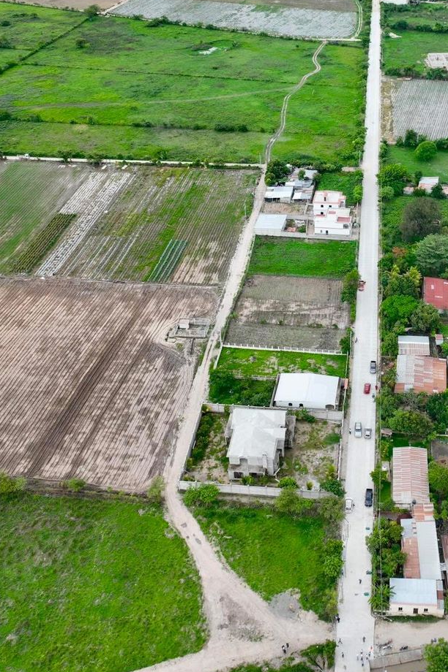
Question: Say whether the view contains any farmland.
Yes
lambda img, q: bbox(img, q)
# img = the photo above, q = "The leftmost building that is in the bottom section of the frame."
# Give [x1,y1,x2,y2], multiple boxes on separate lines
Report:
[225,411,305,481]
